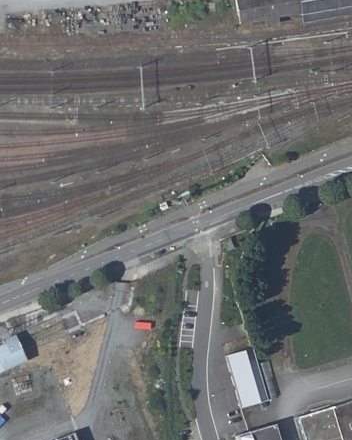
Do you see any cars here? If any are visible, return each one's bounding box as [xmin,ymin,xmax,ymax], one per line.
[184,312,195,317]
[230,418,240,424]
[158,248,168,255]
[228,410,238,416]
[183,324,194,328]
[167,244,178,252]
